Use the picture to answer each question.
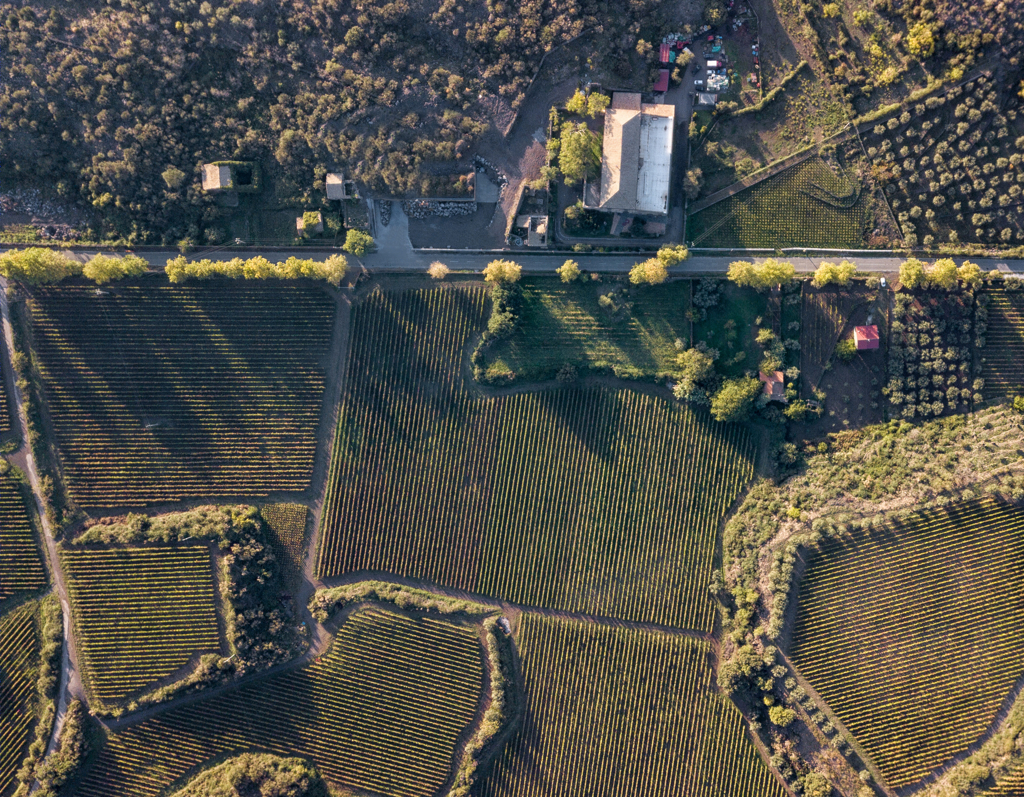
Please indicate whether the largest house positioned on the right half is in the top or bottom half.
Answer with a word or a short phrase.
top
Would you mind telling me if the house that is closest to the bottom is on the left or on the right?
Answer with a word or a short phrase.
right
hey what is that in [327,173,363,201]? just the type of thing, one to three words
shed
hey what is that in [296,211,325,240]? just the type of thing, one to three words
shed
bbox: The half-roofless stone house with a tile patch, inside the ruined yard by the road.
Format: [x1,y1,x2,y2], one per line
[517,215,548,248]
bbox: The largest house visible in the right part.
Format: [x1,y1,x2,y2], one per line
[582,92,675,217]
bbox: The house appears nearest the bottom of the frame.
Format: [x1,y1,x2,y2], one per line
[757,371,787,402]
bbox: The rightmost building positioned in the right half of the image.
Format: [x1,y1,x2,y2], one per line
[852,325,879,350]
